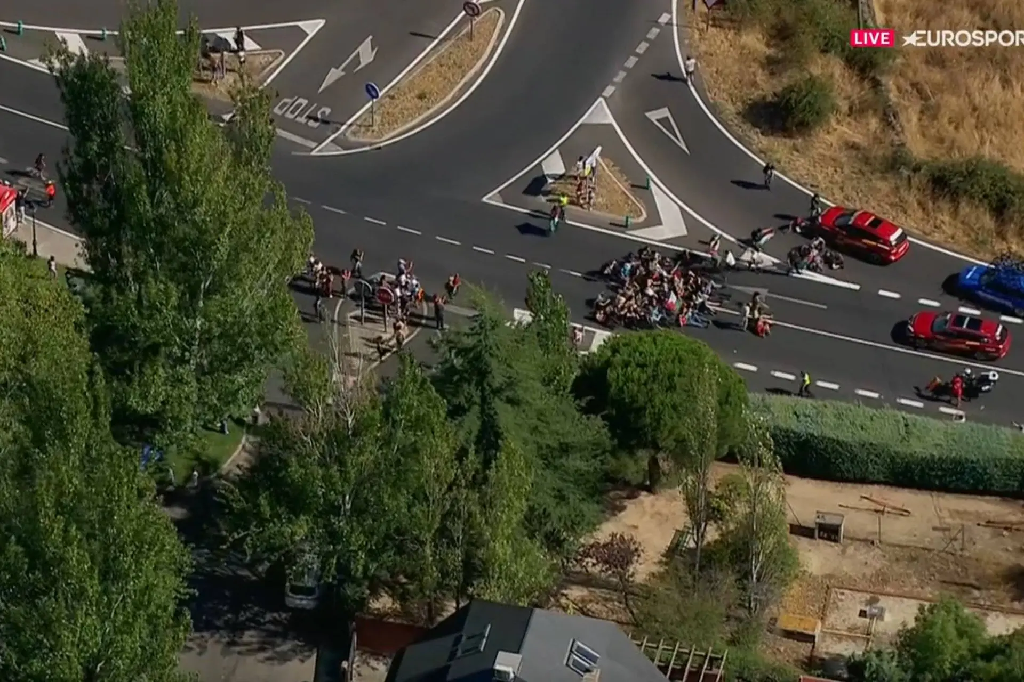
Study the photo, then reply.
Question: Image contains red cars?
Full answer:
Yes, I can see a red car in this picture.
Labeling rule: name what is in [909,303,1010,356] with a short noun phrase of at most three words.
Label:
car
